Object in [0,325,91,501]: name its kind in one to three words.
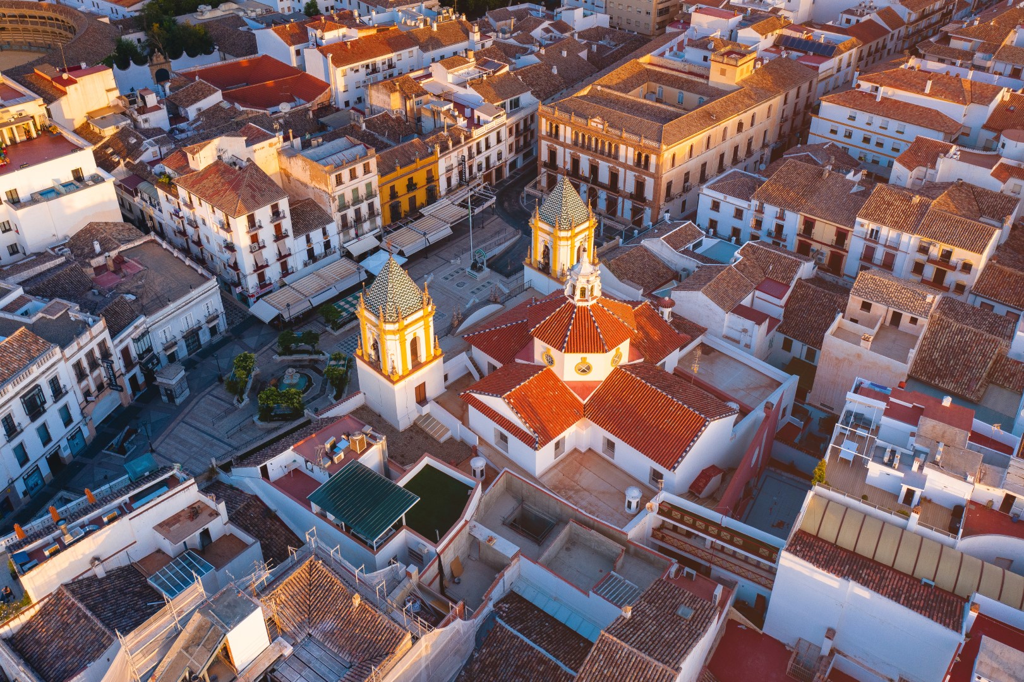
house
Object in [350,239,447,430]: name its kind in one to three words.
building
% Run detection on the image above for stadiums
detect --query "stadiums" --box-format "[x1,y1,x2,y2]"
[0,0,129,80]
